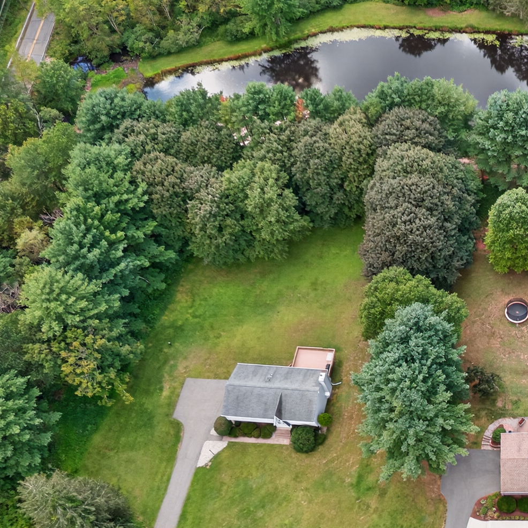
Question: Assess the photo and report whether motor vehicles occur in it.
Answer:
No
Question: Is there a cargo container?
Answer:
No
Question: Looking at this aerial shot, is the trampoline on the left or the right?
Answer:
right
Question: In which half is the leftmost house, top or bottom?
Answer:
bottom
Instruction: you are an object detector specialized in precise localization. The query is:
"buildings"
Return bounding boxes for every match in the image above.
[500,434,528,498]
[222,364,334,431]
